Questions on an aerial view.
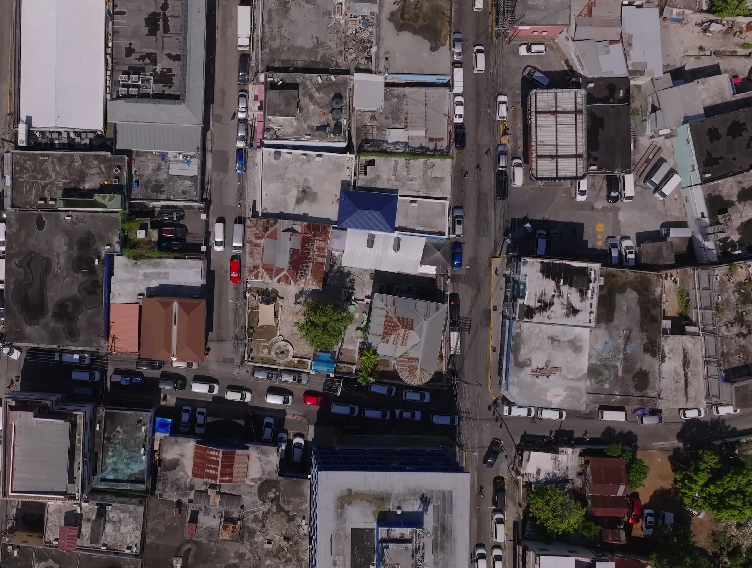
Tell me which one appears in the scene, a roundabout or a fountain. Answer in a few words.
fountain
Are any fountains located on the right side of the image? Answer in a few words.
No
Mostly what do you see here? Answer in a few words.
buildings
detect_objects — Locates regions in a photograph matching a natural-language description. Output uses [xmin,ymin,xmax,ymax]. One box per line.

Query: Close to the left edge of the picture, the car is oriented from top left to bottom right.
[0,341,27,364]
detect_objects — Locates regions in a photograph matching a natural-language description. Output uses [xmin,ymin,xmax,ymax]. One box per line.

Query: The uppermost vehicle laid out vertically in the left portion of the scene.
[235,1,252,52]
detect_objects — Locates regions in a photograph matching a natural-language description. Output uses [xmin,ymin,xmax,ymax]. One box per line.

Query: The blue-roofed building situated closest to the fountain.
[310,349,336,374]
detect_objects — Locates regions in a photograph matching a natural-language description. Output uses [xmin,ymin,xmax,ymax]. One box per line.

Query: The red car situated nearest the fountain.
[299,393,325,407]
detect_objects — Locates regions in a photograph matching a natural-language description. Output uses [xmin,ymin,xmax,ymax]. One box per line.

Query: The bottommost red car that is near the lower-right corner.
[625,493,644,524]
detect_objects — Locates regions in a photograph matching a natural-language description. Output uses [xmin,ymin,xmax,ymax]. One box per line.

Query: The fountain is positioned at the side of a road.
[271,338,295,362]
